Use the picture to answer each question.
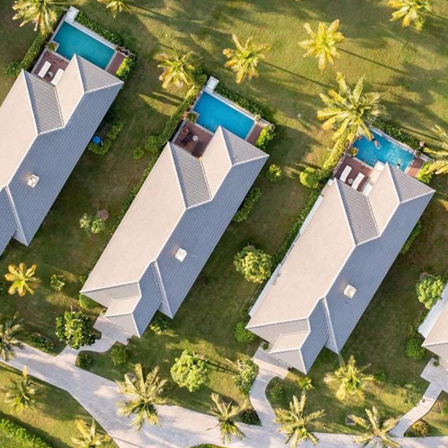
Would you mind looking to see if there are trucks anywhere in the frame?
No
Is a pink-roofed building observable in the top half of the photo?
No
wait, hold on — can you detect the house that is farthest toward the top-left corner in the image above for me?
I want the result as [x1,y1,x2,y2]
[0,52,124,257]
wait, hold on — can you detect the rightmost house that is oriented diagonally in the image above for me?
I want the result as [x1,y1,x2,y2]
[245,160,436,373]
